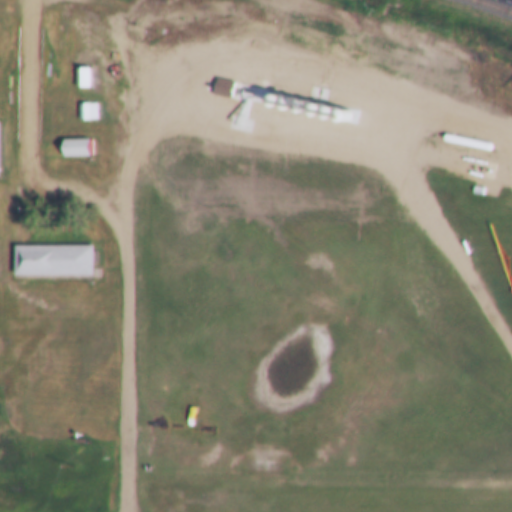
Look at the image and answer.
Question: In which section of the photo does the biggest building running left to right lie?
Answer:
left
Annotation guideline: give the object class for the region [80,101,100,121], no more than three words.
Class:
shed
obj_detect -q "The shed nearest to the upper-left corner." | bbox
[78,66,92,88]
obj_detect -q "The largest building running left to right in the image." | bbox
[14,244,102,278]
